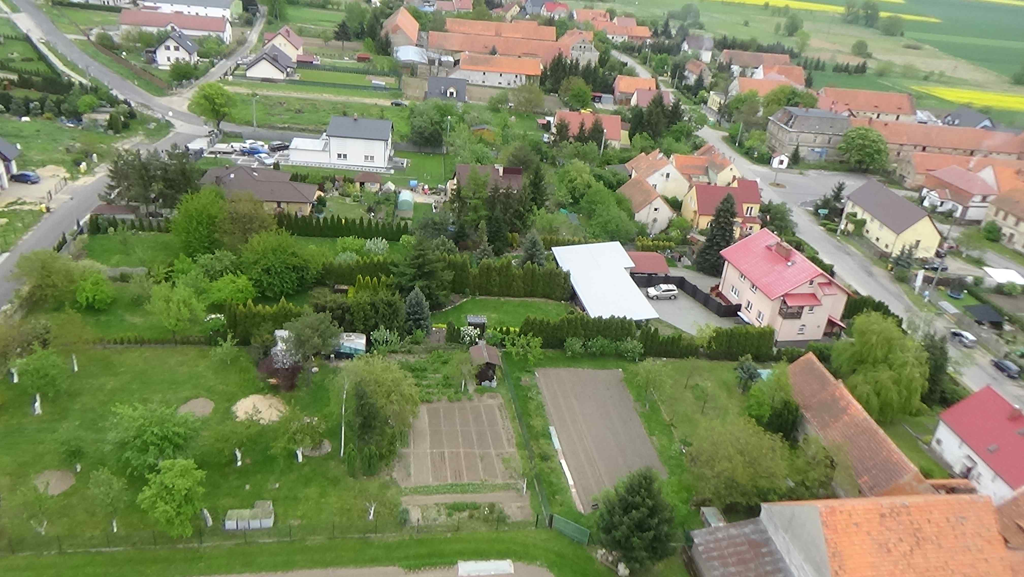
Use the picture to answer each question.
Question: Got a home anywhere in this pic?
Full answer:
Yes, looking at the shot, I can spot a home.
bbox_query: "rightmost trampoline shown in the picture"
[944,286,970,301]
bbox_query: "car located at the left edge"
[11,172,42,186]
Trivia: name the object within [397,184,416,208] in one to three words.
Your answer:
greenhouse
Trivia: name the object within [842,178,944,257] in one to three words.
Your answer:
house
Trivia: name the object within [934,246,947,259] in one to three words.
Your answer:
vehicle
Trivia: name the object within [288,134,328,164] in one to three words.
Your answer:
building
